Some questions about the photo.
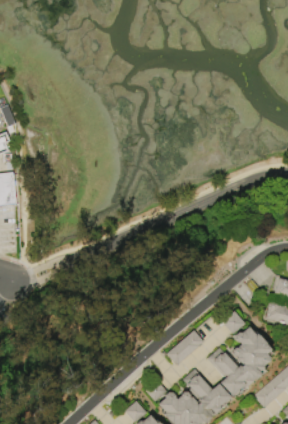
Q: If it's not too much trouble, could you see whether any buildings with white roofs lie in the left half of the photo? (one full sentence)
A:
Yes, there is a building with a white roof in the left half of the photo.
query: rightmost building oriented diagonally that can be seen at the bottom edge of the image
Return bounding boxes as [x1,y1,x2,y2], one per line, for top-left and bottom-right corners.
[255,366,288,406]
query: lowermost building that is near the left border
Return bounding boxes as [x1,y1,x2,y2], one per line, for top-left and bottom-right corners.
[0,172,16,206]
